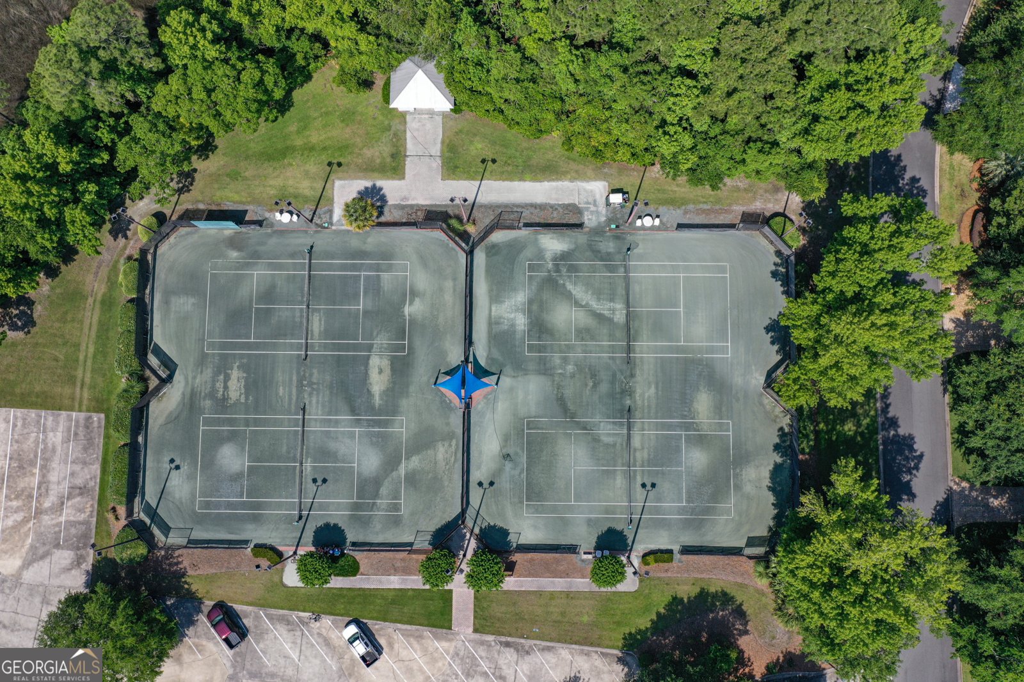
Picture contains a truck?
Yes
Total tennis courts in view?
4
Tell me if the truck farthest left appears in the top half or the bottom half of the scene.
bottom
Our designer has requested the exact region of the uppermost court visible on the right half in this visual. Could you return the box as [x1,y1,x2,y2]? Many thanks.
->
[466,230,789,389]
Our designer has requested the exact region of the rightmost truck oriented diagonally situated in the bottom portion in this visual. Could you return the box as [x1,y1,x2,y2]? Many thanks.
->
[341,619,382,670]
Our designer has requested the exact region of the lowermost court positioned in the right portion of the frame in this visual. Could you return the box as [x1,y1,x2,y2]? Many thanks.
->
[463,386,794,556]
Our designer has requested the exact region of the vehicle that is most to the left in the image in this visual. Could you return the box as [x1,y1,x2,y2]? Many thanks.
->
[207,604,246,653]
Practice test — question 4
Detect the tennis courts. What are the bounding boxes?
[148,228,468,386]
[466,230,789,389]
[463,386,794,556]
[138,382,465,551]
